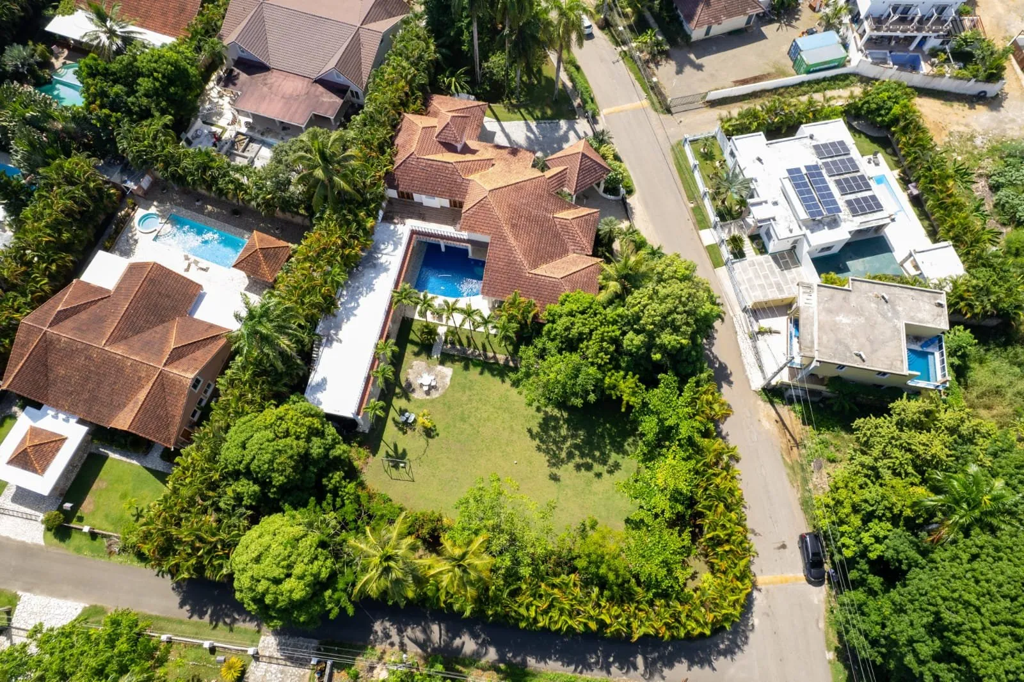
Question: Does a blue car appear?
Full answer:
No, there isn't any blue car down there.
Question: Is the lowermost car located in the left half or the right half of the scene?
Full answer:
The lowermost car sits on the right side.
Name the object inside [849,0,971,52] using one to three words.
house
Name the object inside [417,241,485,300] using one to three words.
swimming pool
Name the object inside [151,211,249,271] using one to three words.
swimming pool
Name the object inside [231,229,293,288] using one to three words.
gazebo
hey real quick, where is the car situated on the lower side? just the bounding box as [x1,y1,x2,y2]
[796,534,828,589]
